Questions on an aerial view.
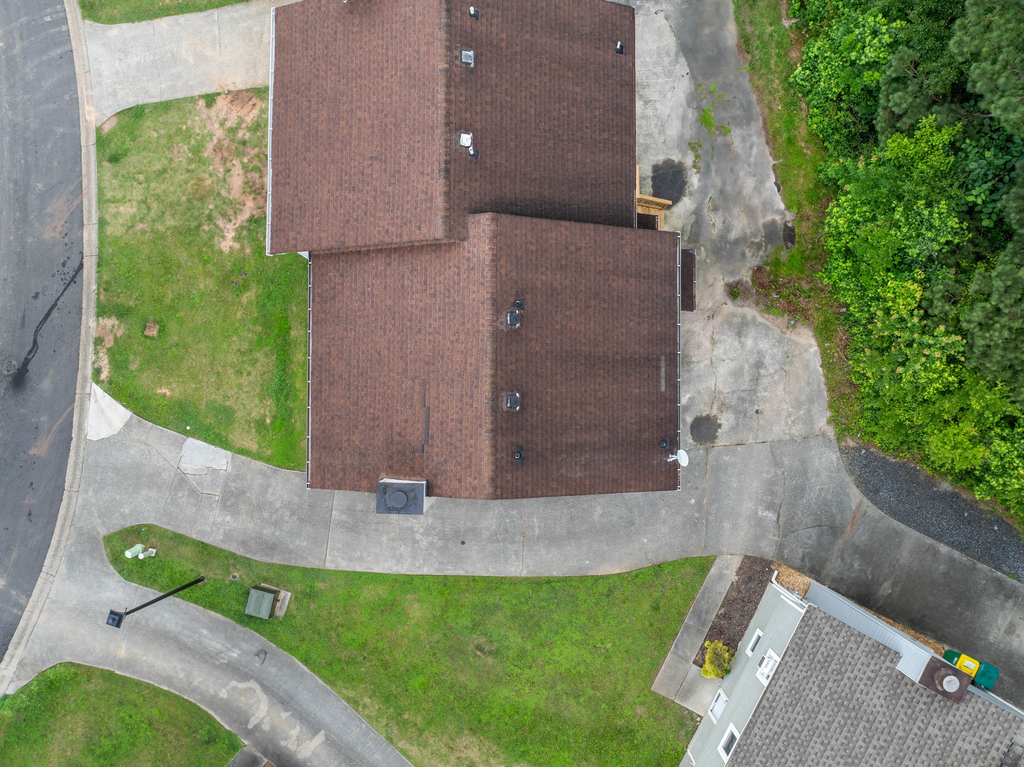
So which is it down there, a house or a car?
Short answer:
house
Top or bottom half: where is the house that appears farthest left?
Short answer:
top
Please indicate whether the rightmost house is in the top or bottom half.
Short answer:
bottom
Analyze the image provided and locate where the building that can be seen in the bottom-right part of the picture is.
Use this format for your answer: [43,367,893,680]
[672,569,1024,767]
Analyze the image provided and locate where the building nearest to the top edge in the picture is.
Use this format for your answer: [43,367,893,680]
[267,0,696,513]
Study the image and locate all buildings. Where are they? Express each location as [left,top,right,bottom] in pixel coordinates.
[267,0,696,513]
[672,569,1024,767]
